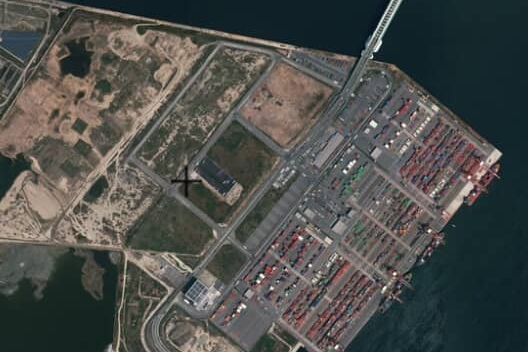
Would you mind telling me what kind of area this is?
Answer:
port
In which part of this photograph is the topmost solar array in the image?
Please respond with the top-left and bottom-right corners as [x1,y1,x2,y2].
[1,31,40,59]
